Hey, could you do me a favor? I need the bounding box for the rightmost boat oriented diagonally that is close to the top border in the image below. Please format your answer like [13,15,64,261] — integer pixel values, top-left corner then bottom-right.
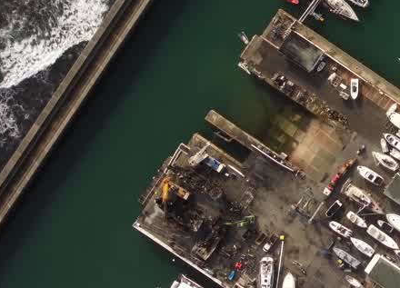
[324,0,358,20]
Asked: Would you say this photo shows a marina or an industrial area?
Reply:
marina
